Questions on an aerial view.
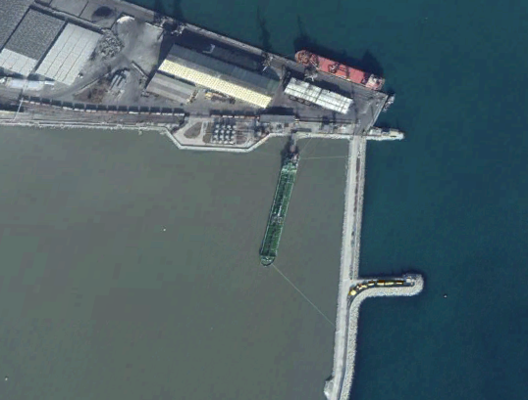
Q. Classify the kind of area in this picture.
port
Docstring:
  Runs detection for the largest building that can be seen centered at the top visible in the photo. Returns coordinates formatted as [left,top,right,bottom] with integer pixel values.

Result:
[158,43,279,107]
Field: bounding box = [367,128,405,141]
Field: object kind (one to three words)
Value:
pier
